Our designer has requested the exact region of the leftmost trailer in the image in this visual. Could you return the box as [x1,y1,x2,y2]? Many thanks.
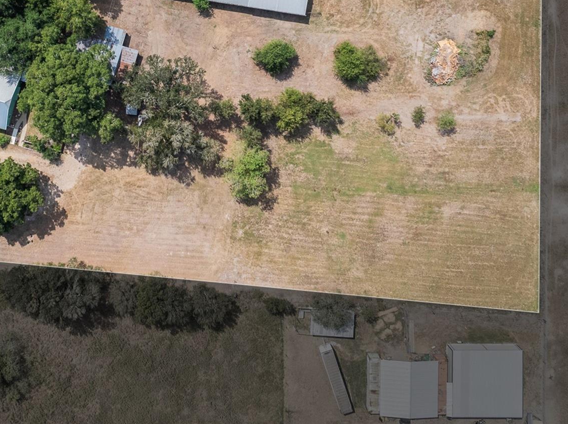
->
[317,339,353,413]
